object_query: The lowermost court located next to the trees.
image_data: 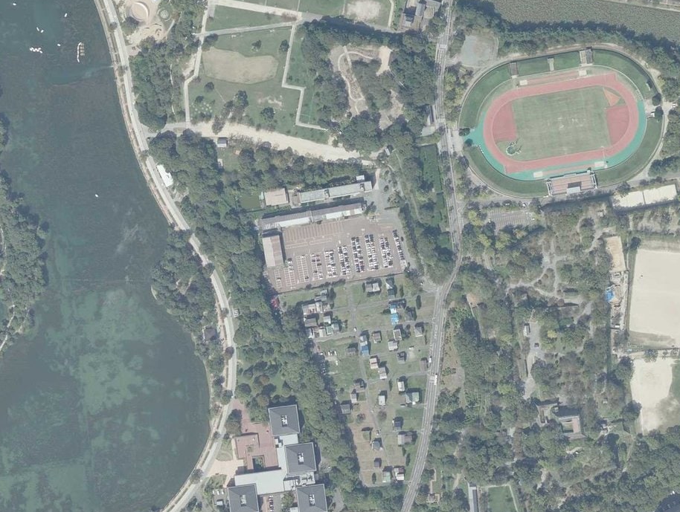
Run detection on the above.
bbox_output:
[606,236,626,270]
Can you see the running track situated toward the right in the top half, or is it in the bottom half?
top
